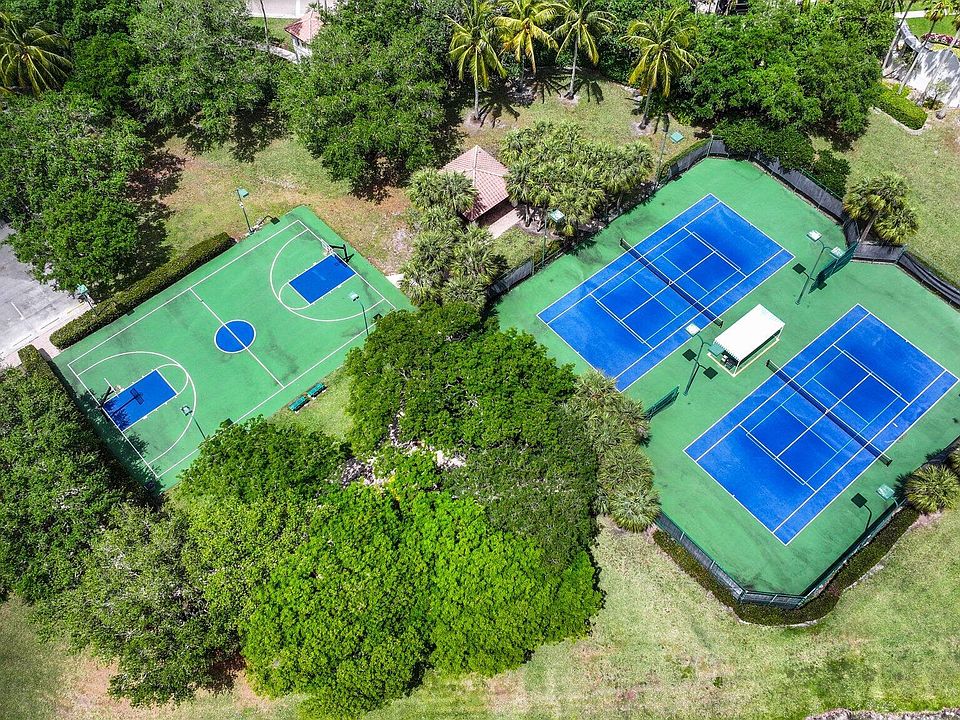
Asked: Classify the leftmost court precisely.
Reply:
basketball court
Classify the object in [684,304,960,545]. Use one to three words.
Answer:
tennis court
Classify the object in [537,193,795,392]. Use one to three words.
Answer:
tennis court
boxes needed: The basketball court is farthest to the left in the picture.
[49,205,412,494]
